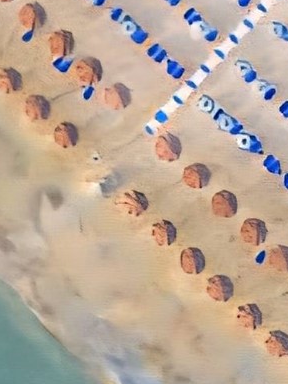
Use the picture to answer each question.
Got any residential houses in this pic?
No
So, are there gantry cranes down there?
No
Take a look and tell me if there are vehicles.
No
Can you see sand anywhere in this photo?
Yes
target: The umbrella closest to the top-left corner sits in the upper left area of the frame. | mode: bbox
[20,5,42,27]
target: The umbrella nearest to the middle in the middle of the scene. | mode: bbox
[117,191,142,216]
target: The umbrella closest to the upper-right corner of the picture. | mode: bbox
[268,20,286,38]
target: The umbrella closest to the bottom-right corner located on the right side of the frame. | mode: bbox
[265,332,288,355]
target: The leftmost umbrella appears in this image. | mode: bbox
[0,68,18,92]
